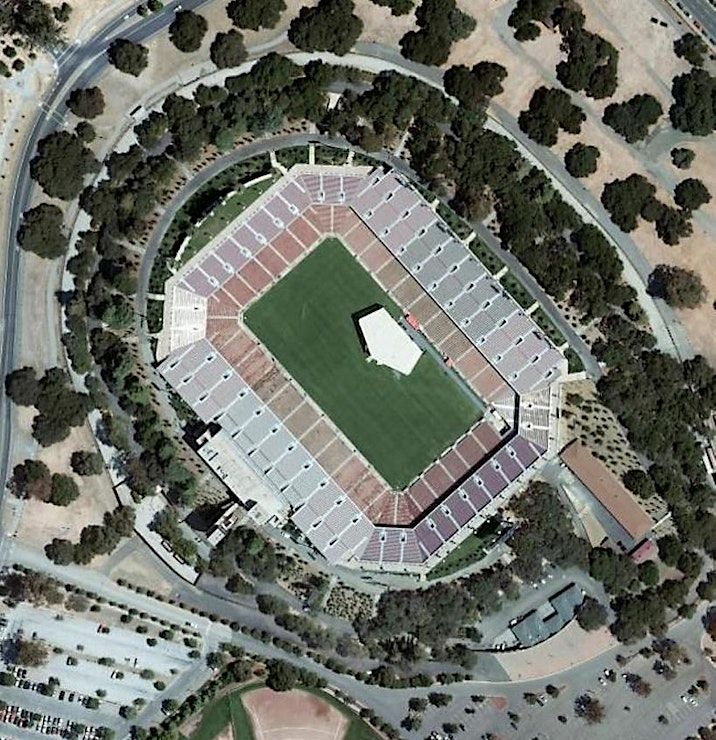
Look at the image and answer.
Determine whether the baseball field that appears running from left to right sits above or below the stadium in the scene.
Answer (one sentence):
As seen from overhead, the baseball field that appears running from left to right falls below the stadium in the picture.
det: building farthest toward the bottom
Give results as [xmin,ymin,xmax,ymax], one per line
[488,582,586,652]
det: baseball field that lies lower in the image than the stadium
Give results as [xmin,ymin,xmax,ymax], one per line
[197,683,371,740]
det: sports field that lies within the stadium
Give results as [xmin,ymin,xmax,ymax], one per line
[245,239,514,489]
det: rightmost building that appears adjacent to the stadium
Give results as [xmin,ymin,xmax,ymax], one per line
[562,441,655,542]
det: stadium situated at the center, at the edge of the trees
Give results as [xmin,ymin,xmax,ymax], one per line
[157,163,567,572]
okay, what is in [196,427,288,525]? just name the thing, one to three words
building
